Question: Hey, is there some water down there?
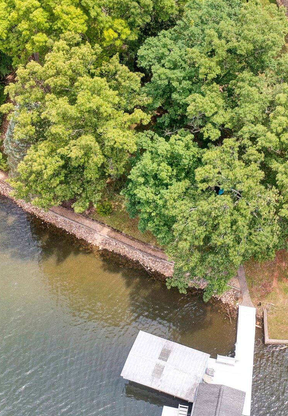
Yes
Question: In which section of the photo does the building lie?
bottom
